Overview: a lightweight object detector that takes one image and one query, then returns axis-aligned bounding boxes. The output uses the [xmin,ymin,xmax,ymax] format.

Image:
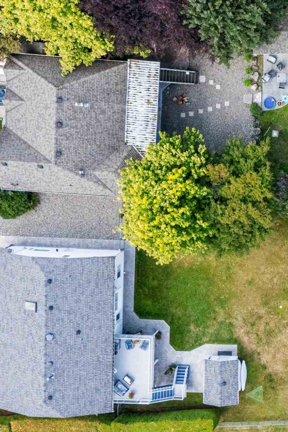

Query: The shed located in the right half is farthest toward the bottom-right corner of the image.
[204,357,238,407]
